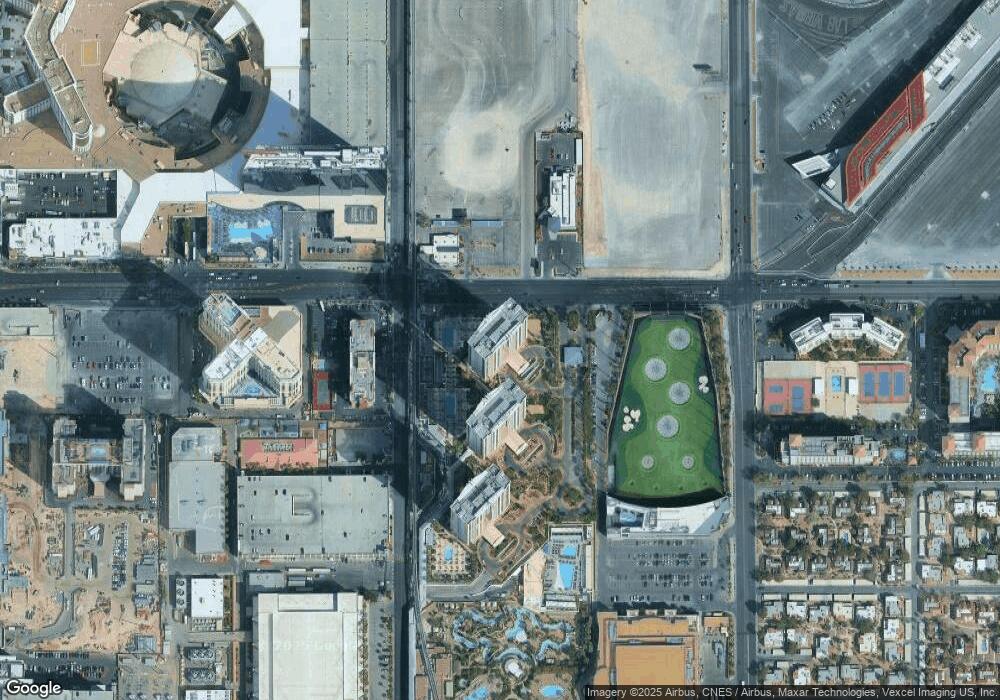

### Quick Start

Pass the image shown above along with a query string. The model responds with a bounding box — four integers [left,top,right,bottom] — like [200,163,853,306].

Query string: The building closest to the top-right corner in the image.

[818,0,1000,215]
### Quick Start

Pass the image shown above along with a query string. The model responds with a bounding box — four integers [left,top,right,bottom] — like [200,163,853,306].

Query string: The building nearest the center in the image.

[469,297,530,381]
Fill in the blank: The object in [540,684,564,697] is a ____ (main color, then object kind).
blue swimming pool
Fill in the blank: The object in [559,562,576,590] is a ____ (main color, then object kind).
blue swimming pool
